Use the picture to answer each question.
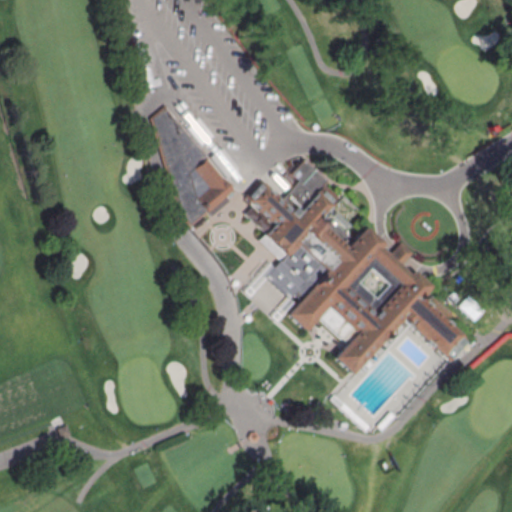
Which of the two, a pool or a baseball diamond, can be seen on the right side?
pool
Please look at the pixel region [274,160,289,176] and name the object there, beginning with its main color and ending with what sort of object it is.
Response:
white vehicle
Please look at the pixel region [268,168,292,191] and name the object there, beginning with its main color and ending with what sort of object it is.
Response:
white truck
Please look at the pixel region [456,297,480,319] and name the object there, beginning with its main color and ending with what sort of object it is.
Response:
white tent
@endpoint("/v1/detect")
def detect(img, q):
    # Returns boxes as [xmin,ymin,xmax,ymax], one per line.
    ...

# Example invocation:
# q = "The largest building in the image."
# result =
[246,163,474,374]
